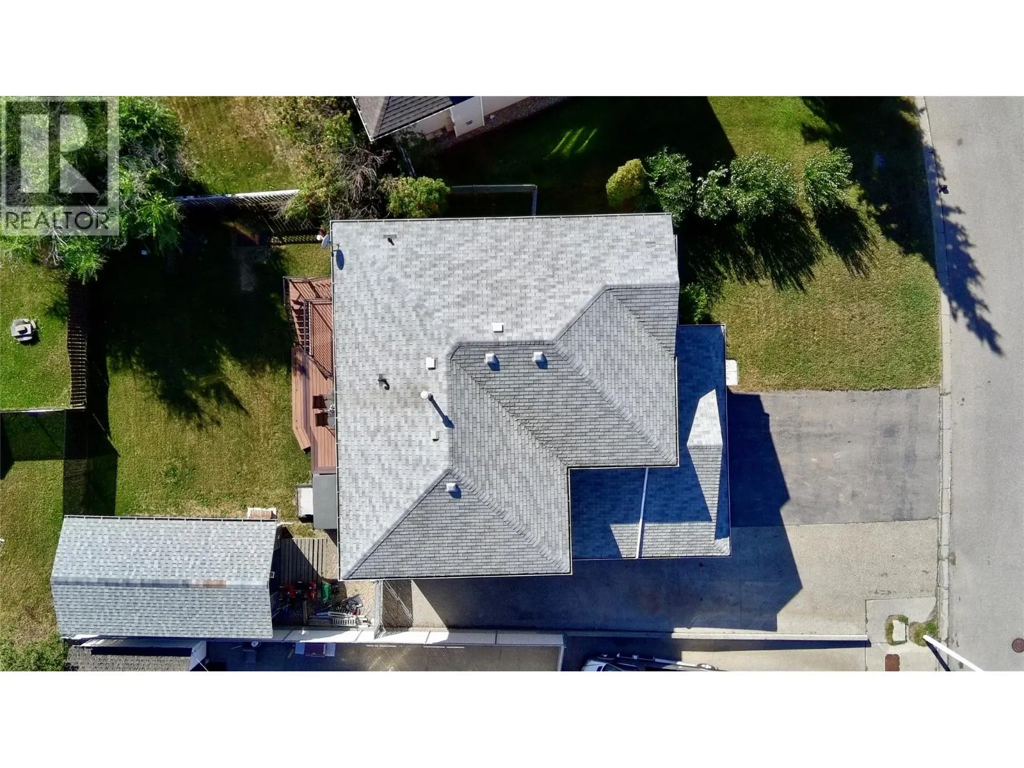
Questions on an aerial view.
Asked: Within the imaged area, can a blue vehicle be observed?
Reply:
No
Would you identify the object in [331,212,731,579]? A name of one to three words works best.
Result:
house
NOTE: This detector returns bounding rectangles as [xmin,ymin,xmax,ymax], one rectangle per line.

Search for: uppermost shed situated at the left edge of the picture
[51,515,286,637]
